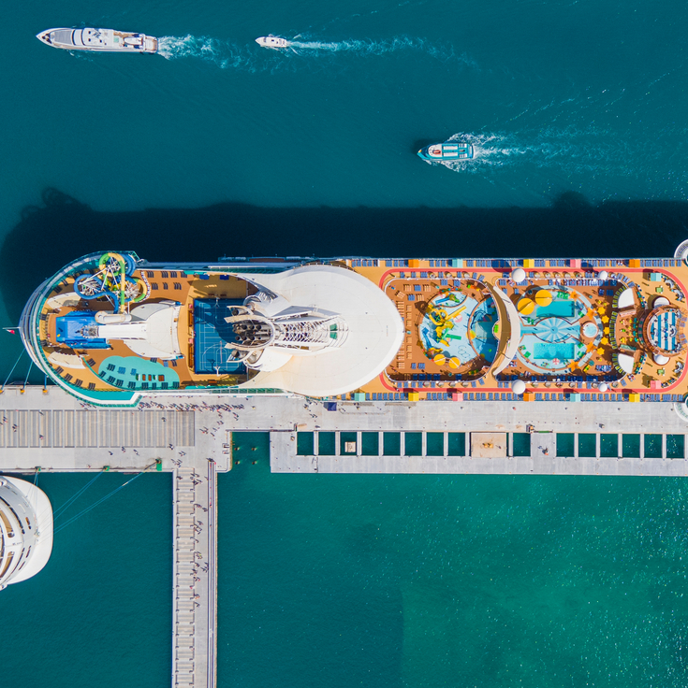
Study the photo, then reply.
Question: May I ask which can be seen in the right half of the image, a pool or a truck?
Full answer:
What appears in the right half of the image is a pool.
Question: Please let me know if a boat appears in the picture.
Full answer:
Yes, the frame does contain a boat.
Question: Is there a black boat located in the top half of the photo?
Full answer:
No, I see no black boat in the top half of the photo.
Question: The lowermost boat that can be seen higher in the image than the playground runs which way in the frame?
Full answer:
From this overhead view, the lowermost boat that can be seen higher in the image than the playground appears to run horizontally.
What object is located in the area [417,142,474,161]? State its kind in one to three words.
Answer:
boat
